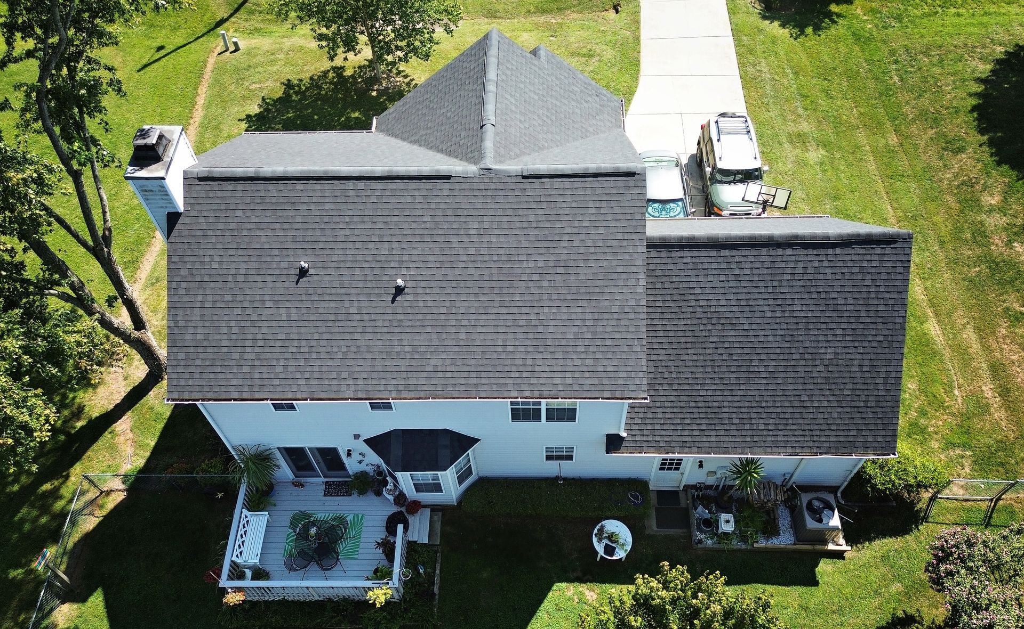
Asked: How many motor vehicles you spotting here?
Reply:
2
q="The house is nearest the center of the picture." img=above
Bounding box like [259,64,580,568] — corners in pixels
[122,29,912,507]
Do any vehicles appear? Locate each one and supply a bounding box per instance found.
[701,111,771,216]
[636,145,699,216]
